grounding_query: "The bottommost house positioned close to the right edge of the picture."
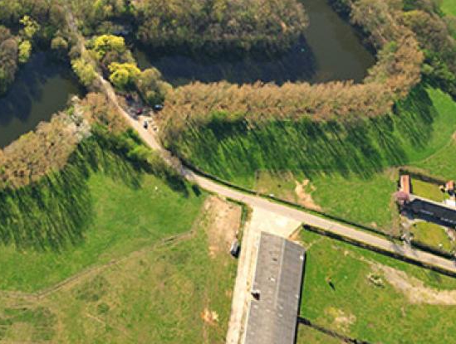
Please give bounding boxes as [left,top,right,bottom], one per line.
[409,196,456,238]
